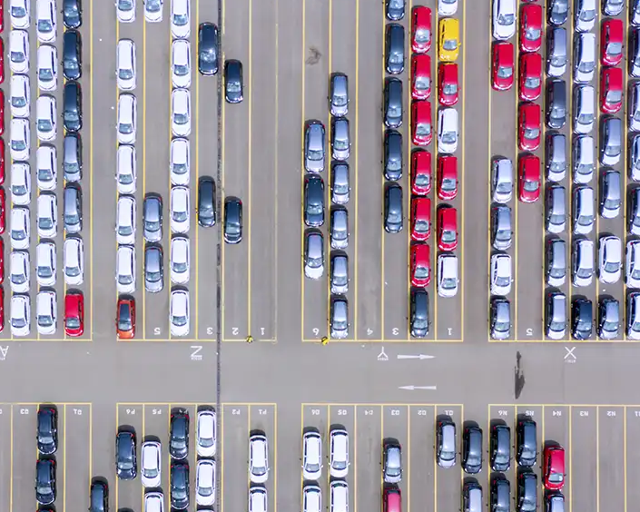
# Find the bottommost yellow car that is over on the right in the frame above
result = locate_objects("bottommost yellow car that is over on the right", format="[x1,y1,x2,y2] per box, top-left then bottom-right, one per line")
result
[437,17,461,62]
